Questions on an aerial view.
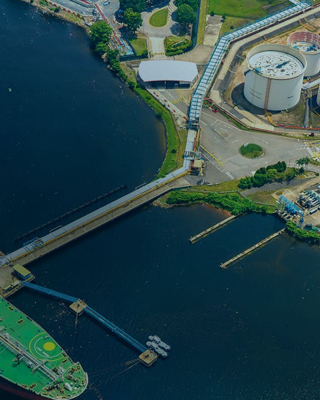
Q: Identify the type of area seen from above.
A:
industrial area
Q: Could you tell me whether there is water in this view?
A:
Yes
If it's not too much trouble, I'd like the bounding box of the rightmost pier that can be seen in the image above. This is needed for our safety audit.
[220,229,288,271]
